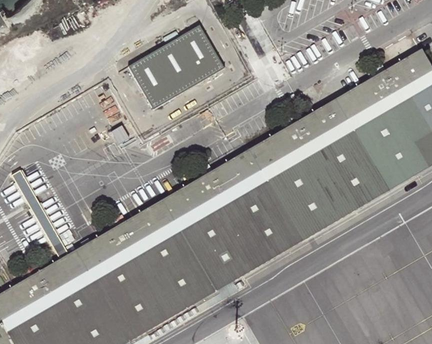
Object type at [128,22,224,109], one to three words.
building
